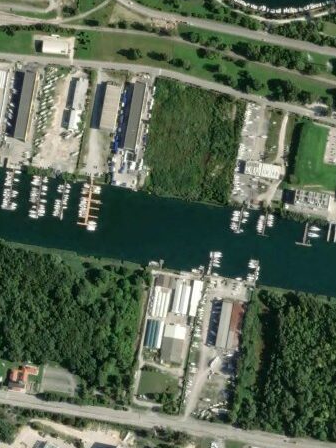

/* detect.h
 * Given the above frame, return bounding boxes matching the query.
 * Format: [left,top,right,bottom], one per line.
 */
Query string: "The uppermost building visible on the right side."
[245,161,284,180]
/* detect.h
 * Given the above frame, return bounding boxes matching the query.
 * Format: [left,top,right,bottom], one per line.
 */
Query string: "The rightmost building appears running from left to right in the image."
[295,190,330,208]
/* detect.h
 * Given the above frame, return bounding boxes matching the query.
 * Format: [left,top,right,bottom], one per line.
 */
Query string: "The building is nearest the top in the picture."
[41,41,70,54]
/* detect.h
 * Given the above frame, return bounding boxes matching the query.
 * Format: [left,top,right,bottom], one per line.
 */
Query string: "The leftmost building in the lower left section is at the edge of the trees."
[9,367,39,390]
